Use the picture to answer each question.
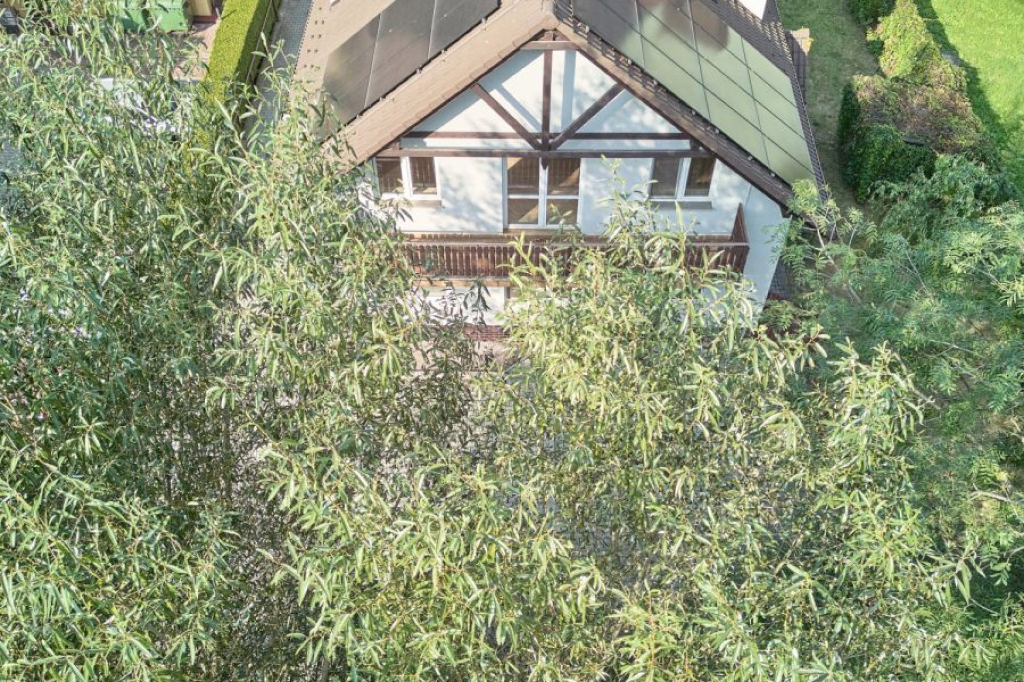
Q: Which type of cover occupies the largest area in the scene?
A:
trees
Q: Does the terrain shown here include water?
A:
No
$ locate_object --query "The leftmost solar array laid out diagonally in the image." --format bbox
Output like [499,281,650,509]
[306,0,494,143]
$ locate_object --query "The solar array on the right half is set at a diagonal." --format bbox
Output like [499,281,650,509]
[577,0,829,205]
